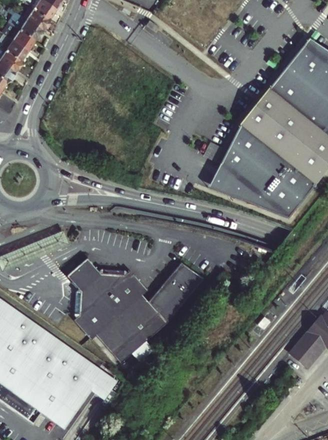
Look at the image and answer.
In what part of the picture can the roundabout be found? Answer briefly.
left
